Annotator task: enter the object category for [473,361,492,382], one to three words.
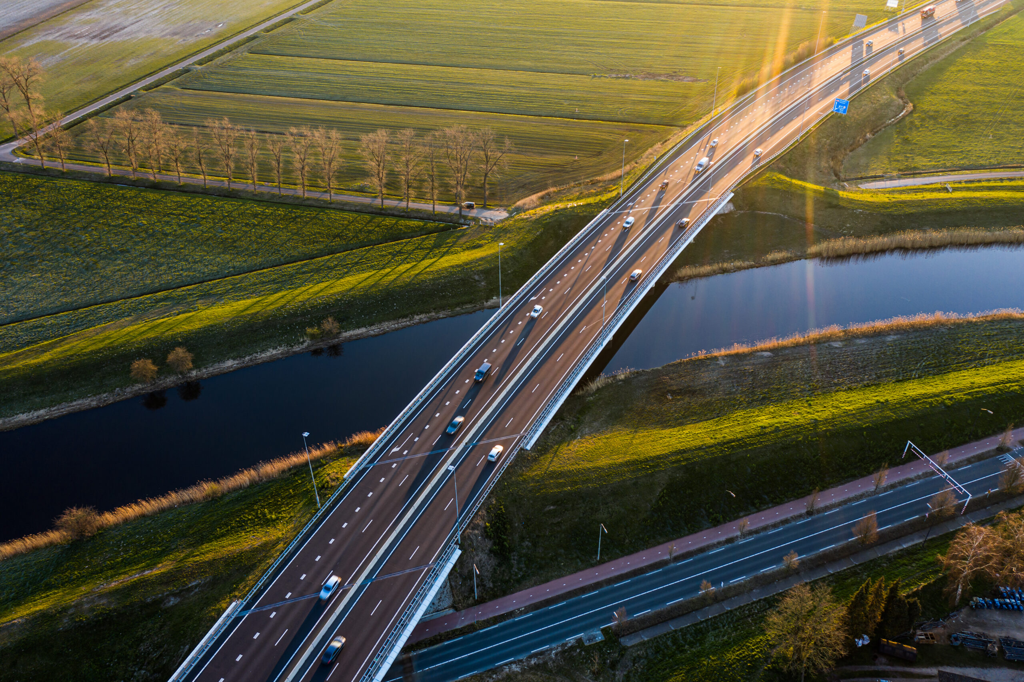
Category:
vehicle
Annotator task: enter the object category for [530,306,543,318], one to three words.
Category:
vehicle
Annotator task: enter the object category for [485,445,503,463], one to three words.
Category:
car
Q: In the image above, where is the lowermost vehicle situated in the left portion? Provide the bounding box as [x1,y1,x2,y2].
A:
[320,636,348,667]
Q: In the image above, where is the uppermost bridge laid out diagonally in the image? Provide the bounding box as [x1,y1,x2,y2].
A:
[350,195,730,470]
